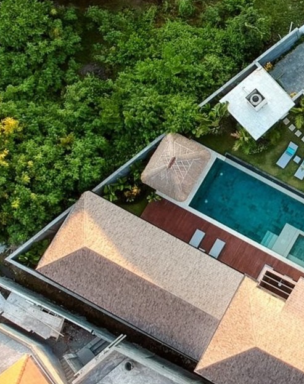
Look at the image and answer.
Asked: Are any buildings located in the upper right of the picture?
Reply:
Yes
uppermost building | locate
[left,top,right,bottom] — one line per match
[220,64,295,140]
